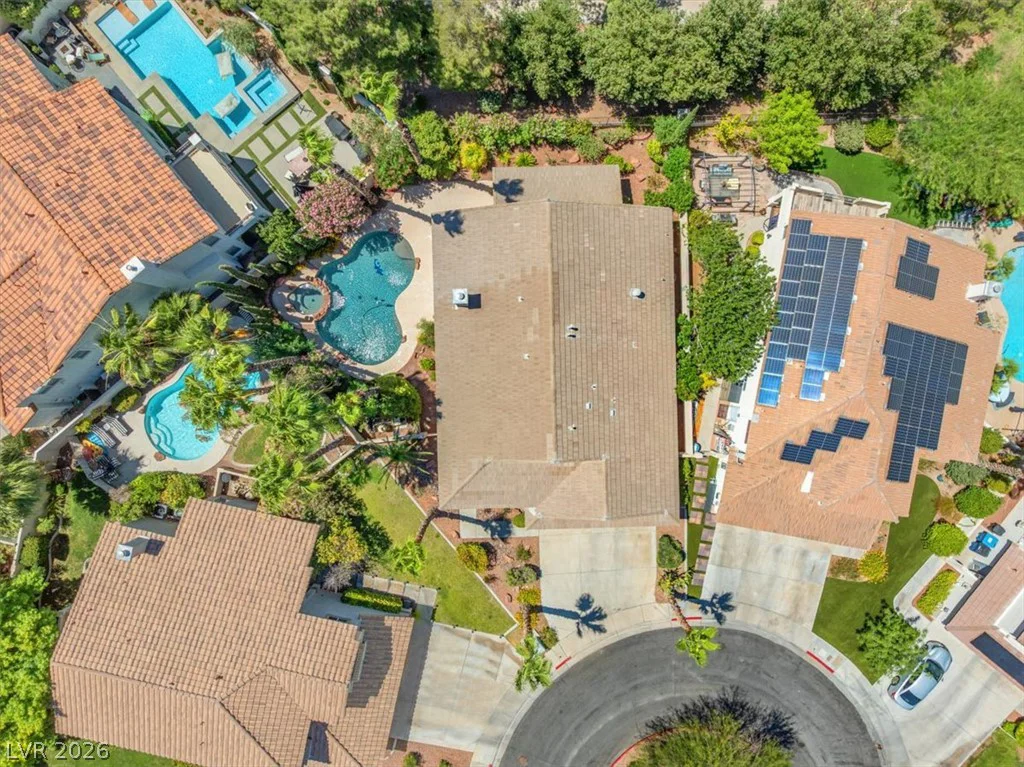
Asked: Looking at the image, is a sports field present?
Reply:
No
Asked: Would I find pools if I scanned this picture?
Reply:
Yes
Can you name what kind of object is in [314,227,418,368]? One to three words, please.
swimming pool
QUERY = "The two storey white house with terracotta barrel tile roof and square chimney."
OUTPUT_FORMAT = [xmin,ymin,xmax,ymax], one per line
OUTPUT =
[0,33,272,452]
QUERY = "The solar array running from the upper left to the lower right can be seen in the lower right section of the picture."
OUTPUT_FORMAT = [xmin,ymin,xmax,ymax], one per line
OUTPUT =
[971,634,1024,689]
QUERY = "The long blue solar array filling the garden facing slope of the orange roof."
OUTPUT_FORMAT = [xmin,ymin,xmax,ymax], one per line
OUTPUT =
[757,218,868,406]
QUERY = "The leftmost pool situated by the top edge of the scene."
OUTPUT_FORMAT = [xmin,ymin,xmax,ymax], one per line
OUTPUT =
[93,0,258,141]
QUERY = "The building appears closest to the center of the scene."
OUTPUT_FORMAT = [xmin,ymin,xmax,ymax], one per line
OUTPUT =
[432,164,681,530]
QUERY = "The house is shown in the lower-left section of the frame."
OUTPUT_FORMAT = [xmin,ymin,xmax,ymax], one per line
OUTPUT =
[48,496,413,767]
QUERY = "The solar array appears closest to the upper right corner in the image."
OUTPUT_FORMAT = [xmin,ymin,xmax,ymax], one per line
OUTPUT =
[897,237,941,299]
